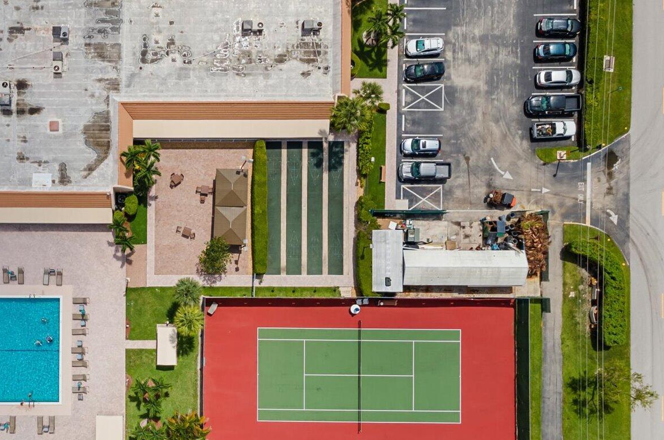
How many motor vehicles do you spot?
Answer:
9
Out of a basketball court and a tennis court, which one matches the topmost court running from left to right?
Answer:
tennis court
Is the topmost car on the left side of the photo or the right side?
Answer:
right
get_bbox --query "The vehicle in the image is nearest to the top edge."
[534,17,578,39]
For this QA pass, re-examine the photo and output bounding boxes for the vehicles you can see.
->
[532,41,575,63]
[528,119,577,140]
[396,160,452,181]
[523,94,583,116]
[401,61,445,82]
[398,136,441,157]
[534,17,578,39]
[402,37,444,59]
[534,68,578,89]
